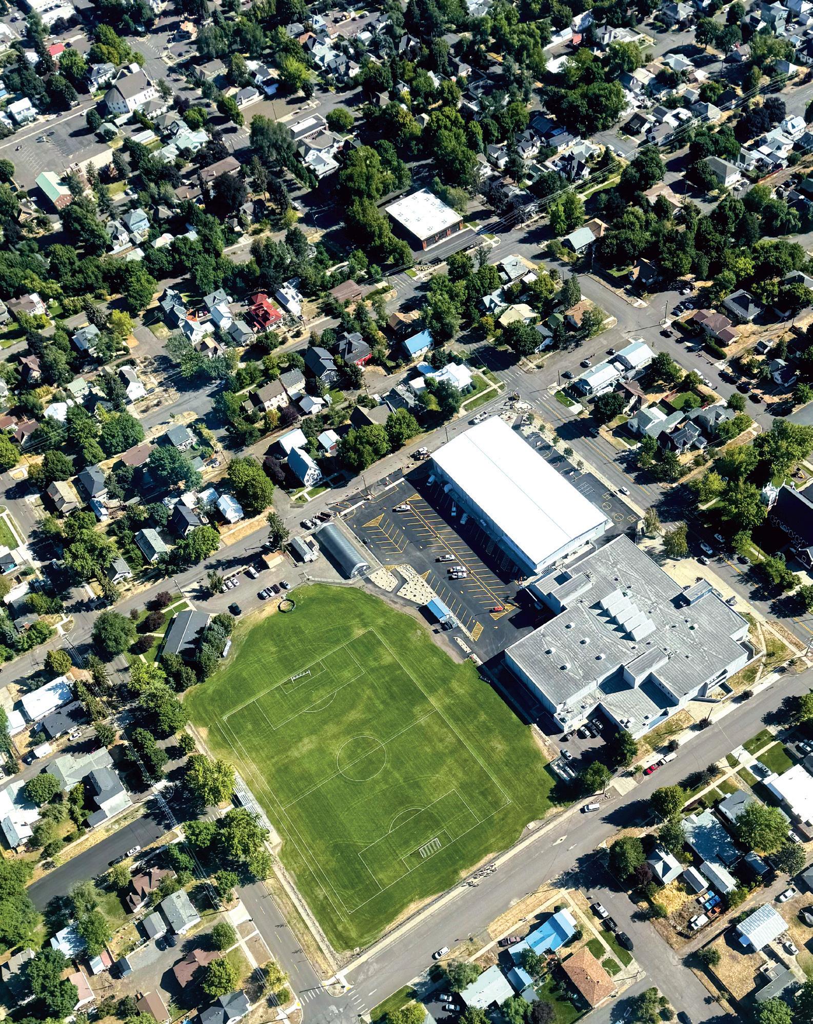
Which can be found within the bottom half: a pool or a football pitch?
football pitch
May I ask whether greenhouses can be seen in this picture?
Yes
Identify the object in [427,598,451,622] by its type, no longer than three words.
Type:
shed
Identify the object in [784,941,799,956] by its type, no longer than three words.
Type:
car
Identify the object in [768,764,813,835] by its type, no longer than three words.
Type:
house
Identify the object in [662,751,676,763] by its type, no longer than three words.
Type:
vehicle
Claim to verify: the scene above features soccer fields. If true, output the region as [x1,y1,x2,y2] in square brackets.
[182,582,562,955]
